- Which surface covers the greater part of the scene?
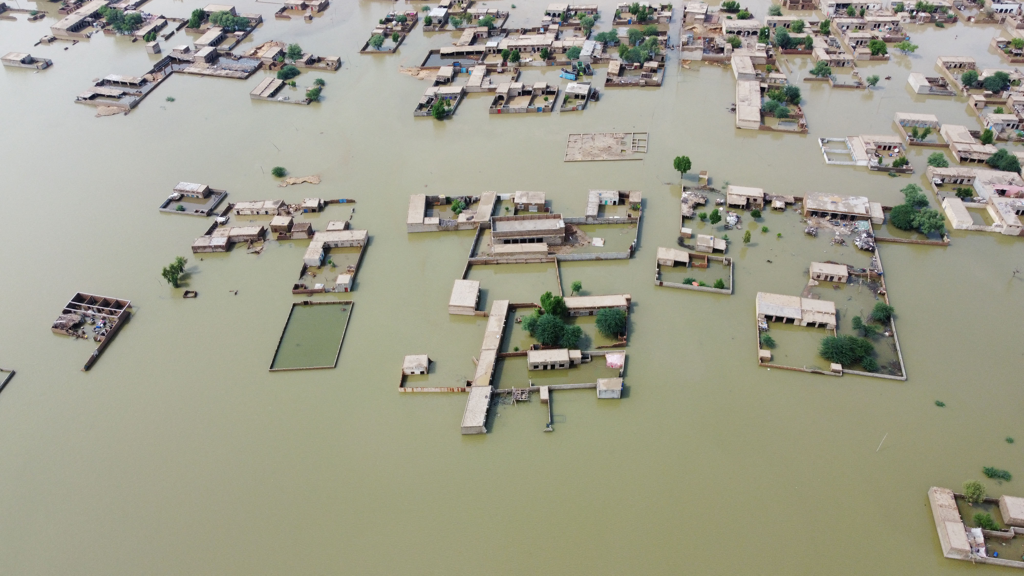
water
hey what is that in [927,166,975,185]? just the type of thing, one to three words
house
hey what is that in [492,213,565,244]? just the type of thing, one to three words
building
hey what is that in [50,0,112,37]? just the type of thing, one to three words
house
